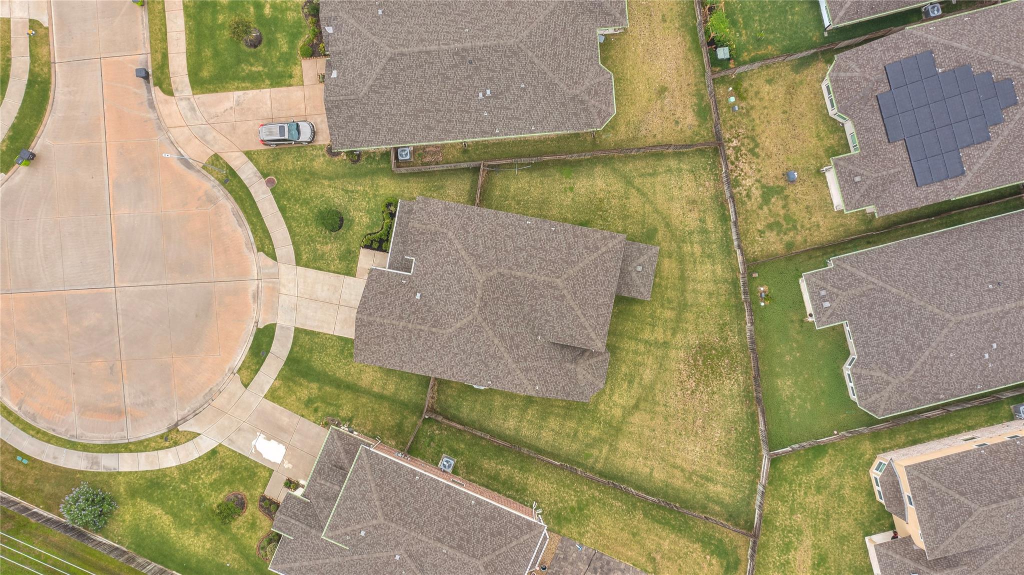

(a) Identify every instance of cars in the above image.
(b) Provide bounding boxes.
[256,117,318,147]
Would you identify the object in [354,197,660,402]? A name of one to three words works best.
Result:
house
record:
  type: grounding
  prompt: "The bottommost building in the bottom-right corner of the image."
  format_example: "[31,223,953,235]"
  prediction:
[865,418,1024,575]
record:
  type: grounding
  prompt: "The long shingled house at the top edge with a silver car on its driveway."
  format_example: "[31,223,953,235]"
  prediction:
[319,0,630,153]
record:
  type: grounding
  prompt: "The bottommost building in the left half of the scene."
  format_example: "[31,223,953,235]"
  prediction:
[268,424,550,575]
